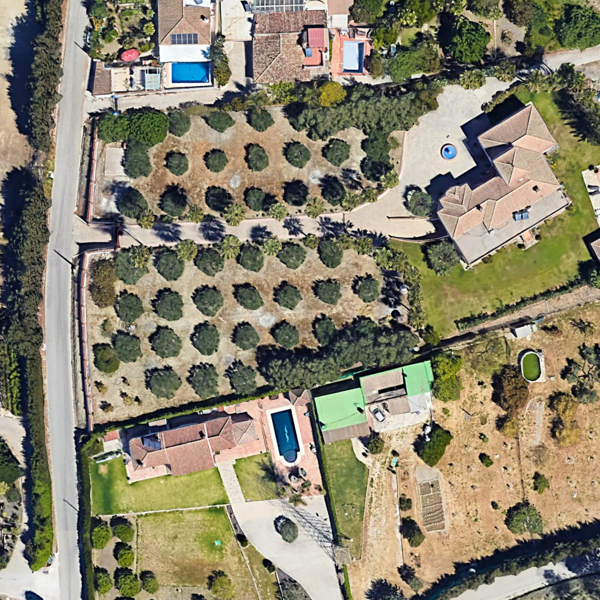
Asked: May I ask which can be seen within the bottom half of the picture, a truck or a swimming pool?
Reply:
swimming pool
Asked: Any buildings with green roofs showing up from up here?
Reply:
Yes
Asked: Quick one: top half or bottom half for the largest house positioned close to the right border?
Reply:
top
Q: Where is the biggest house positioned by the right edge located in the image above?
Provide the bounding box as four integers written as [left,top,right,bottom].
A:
[437,104,572,269]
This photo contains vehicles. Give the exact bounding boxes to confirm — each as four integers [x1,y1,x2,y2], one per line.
[85,26,93,49]
[367,404,386,425]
